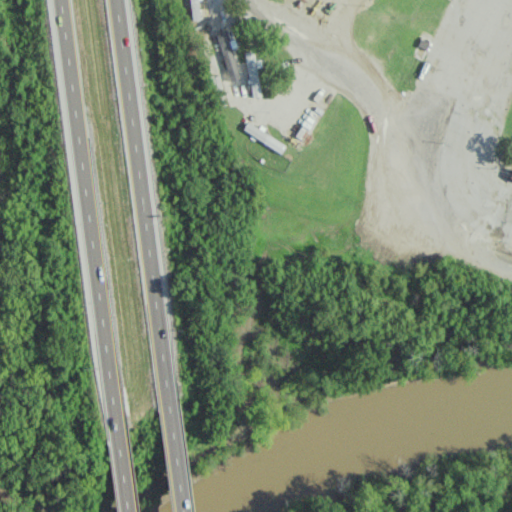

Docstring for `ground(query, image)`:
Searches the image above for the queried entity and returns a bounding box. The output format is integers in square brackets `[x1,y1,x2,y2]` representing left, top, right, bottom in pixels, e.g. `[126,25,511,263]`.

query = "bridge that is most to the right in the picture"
[158,406,194,512]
